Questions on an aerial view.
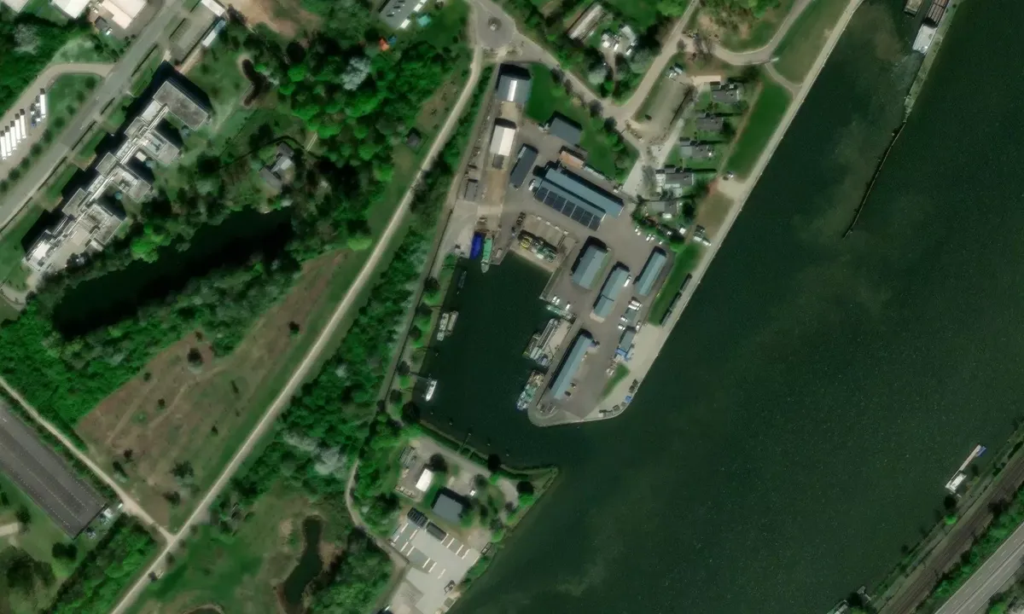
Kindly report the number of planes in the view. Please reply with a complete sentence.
There are no planes in the image.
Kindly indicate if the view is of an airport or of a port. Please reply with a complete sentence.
What you see here is a port.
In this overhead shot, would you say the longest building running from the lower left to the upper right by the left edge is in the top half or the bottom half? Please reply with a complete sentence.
The longest building running from the lower left to the upper right by the left edge is in the top half of the image.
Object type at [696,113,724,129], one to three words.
house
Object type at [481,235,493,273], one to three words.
boat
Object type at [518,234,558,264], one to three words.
ship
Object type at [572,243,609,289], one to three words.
building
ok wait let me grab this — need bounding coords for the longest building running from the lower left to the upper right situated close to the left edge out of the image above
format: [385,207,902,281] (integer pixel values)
[25,77,215,271]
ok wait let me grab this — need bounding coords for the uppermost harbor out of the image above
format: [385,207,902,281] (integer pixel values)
[430,0,864,426]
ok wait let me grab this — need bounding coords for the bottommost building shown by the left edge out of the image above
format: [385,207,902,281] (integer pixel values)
[0,396,107,538]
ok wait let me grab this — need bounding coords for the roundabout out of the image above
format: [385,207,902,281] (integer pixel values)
[476,0,516,48]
